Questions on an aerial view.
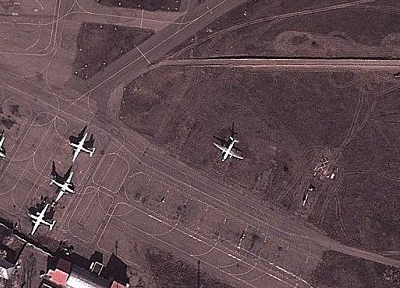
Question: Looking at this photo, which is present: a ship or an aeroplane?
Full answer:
I can see an aeroplane in this picture.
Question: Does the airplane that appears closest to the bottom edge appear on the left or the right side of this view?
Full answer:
It is on the left.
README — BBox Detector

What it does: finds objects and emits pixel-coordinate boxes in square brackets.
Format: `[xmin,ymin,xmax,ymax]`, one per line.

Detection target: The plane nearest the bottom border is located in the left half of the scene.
[29,204,56,235]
